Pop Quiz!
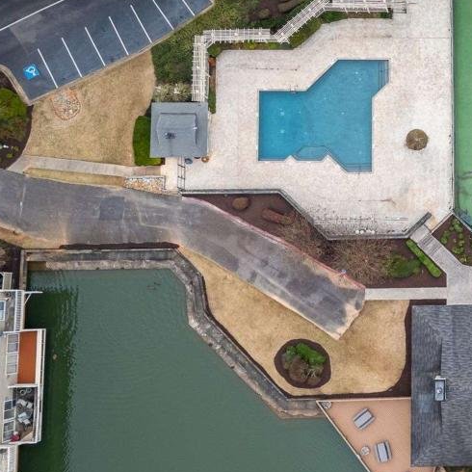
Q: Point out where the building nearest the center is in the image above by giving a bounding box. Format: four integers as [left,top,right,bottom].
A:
[149,103,213,159]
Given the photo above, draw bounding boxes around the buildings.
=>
[149,103,213,159]
[410,303,472,469]
[0,289,50,472]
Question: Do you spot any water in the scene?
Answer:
Yes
